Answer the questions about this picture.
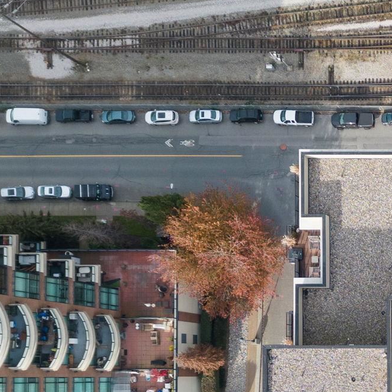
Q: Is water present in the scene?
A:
No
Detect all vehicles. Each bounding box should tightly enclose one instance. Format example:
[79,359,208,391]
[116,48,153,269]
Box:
[52,106,95,124]
[188,107,223,124]
[101,108,136,124]
[5,106,48,125]
[331,111,373,129]
[144,108,179,125]
[73,183,112,200]
[229,107,262,124]
[273,108,315,126]
[37,183,71,199]
[0,183,35,200]
[382,110,392,125]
